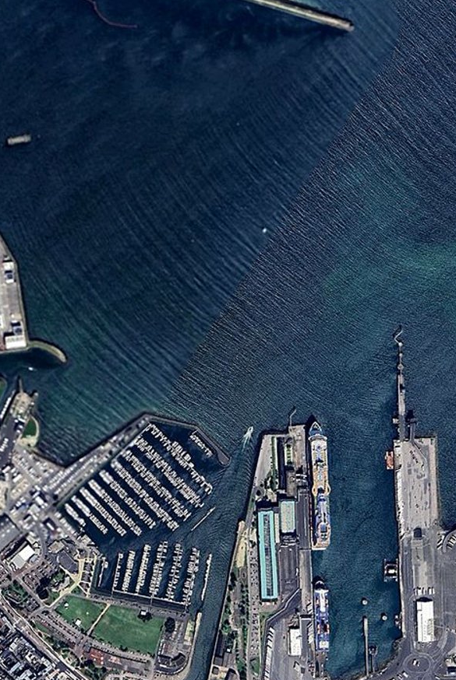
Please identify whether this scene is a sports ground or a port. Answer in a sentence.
This looks like a port.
